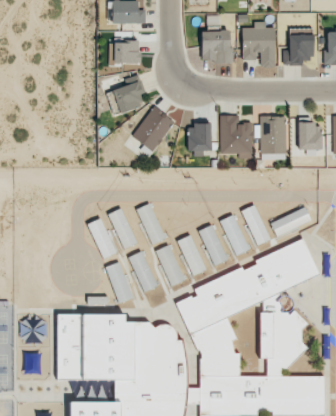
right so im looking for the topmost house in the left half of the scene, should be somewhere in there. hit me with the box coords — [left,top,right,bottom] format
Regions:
[114,0,146,24]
